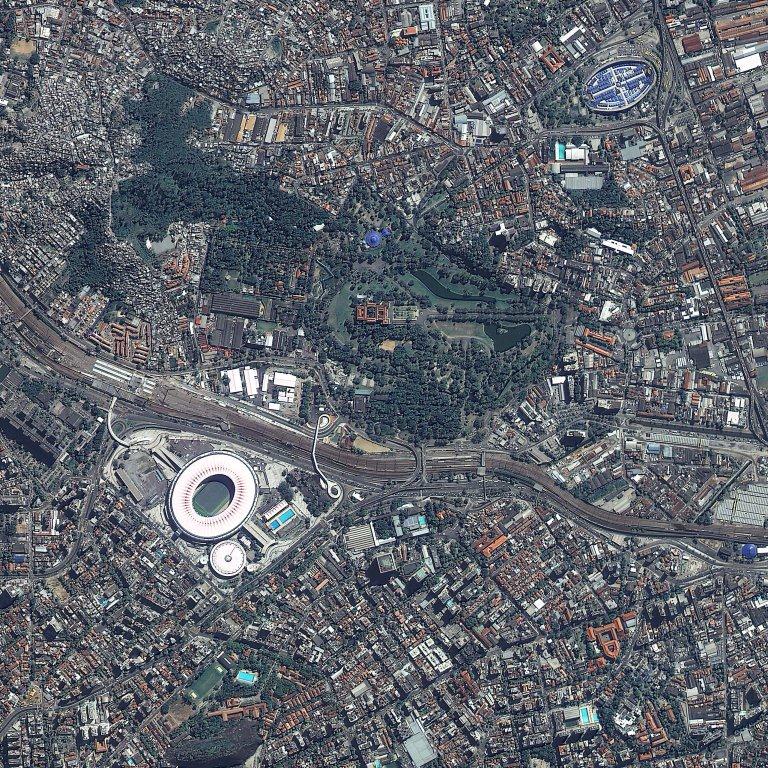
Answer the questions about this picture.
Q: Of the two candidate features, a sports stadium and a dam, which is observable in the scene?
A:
sports stadium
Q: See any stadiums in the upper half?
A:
No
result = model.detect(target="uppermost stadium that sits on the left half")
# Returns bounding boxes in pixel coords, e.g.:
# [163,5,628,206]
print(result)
[154,443,270,544]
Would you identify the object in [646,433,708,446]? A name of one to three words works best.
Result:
shed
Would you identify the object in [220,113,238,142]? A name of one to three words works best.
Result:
building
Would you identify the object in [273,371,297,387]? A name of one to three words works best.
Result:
building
